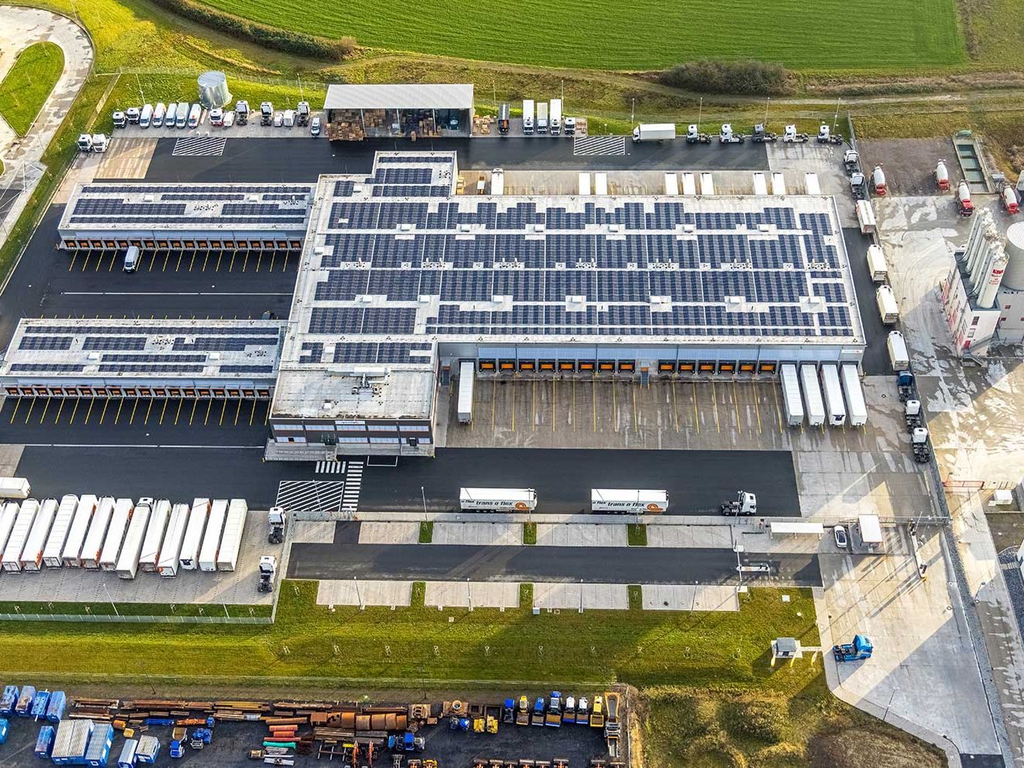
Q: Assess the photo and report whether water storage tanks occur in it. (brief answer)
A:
Yes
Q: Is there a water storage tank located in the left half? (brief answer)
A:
Yes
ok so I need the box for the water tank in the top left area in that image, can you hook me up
[198,68,234,106]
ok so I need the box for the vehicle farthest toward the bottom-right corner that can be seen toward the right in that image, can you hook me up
[836,635,877,660]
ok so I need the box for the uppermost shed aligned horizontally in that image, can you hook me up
[322,82,475,136]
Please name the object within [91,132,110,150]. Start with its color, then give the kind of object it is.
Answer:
white vehicle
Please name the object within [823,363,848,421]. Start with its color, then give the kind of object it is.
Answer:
white trailer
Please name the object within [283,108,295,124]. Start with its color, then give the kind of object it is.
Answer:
white vehicle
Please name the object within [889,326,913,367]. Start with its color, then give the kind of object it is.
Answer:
white truck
